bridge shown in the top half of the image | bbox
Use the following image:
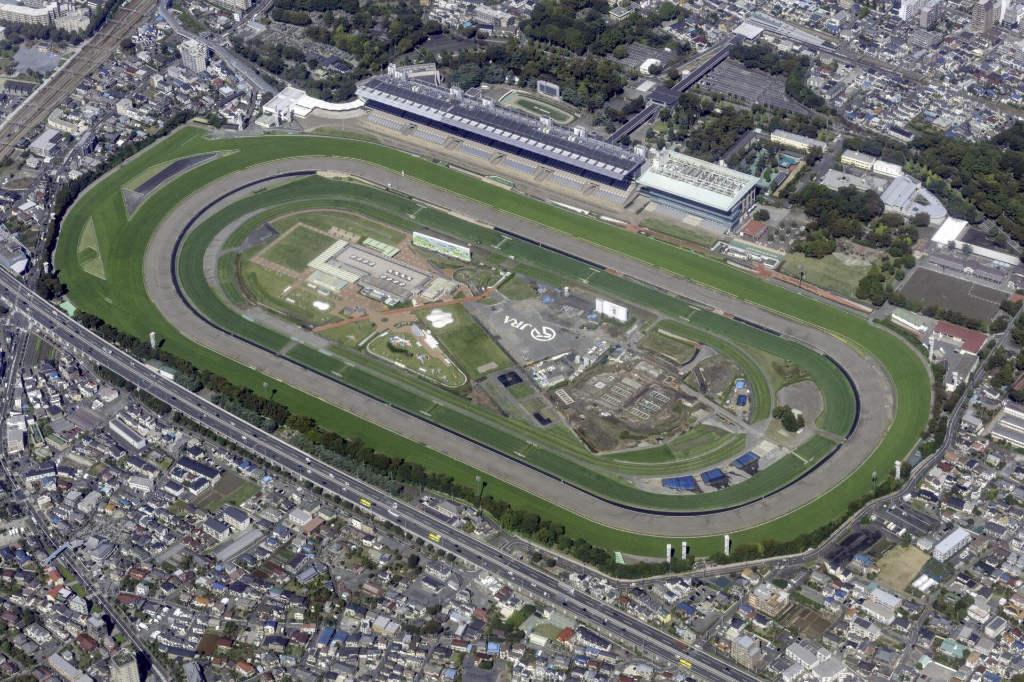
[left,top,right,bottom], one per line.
[156,0,279,99]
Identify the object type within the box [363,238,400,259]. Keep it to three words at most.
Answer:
building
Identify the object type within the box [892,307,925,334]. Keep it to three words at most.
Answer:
building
